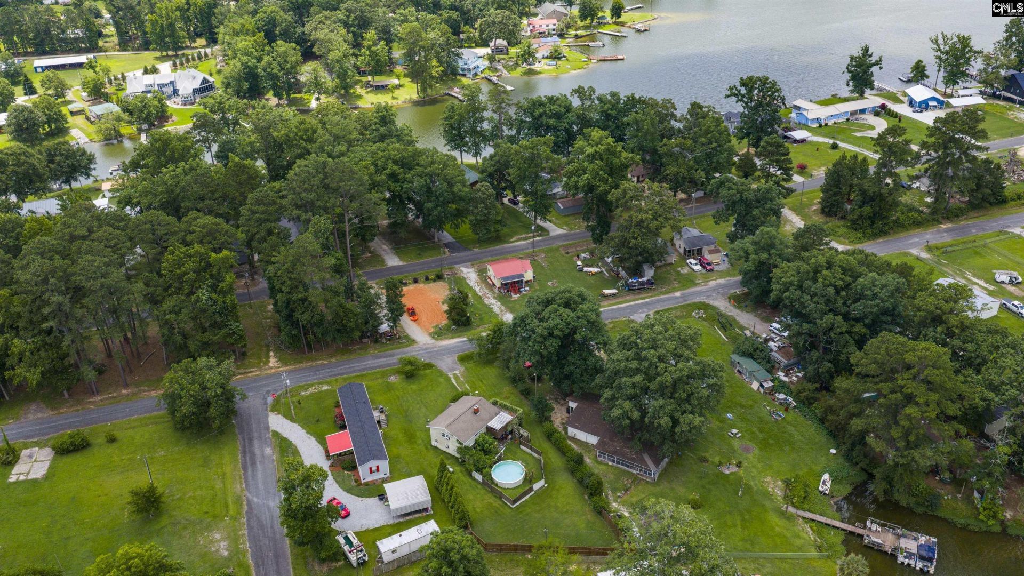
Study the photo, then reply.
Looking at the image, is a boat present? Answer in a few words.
Yes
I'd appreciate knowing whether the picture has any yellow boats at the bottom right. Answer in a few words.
No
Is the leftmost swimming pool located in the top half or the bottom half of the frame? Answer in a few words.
bottom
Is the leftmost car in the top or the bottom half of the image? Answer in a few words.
bottom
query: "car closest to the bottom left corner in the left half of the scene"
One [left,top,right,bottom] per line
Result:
[325,494,350,516]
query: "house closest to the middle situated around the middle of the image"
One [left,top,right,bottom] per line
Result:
[487,257,533,298]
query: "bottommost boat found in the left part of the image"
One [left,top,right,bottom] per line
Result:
[335,526,370,567]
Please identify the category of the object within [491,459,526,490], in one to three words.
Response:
swimming pool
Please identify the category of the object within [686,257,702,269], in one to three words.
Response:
vehicle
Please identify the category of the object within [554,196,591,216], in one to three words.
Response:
shed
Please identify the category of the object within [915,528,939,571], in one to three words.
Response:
boat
